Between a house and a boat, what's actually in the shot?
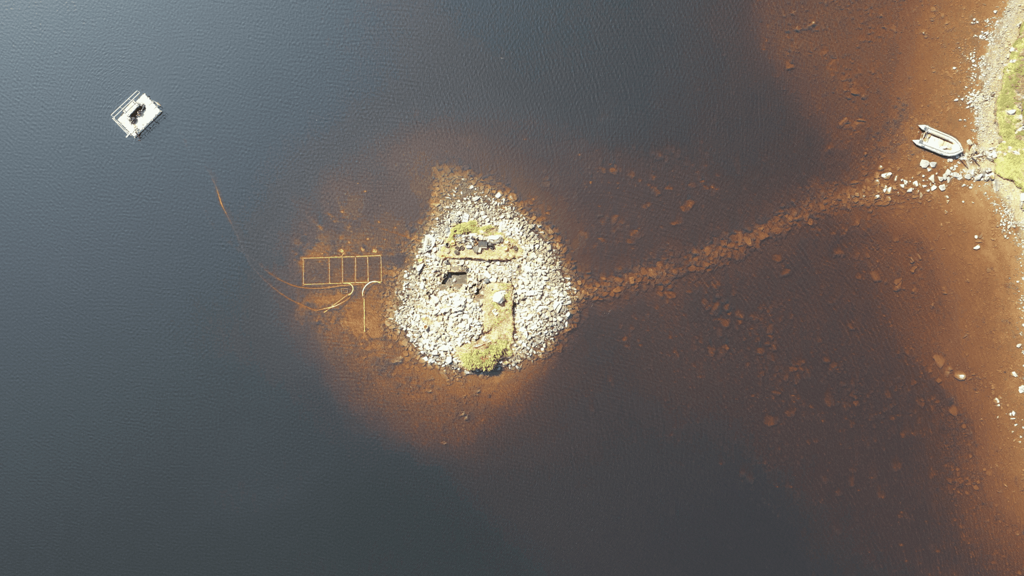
boat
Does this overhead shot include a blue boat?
No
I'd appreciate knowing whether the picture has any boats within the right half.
Yes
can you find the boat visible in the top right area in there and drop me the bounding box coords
[912,124,965,156]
